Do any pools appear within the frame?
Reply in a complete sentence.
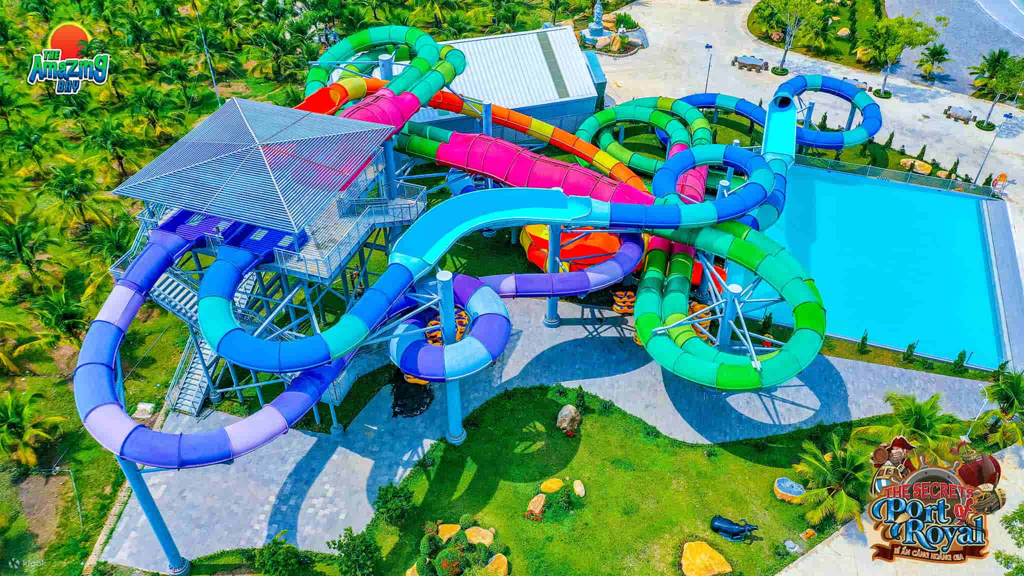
Yes, there is a pool in the image.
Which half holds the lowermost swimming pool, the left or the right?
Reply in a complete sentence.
It is on the right.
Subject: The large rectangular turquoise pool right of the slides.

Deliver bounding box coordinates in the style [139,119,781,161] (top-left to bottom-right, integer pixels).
[761,162,1023,386]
